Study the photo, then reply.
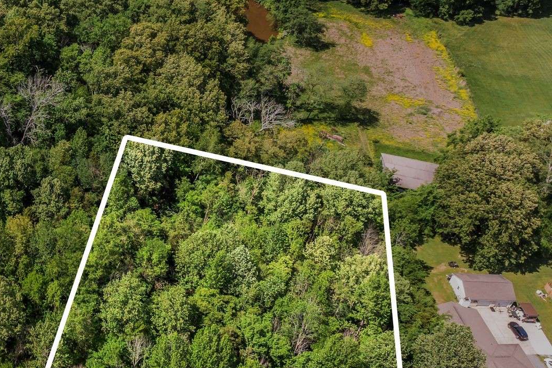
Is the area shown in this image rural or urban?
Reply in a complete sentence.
It looks rural.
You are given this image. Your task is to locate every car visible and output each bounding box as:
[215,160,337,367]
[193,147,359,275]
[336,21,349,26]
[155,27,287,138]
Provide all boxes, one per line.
[542,357,552,368]
[506,322,530,342]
